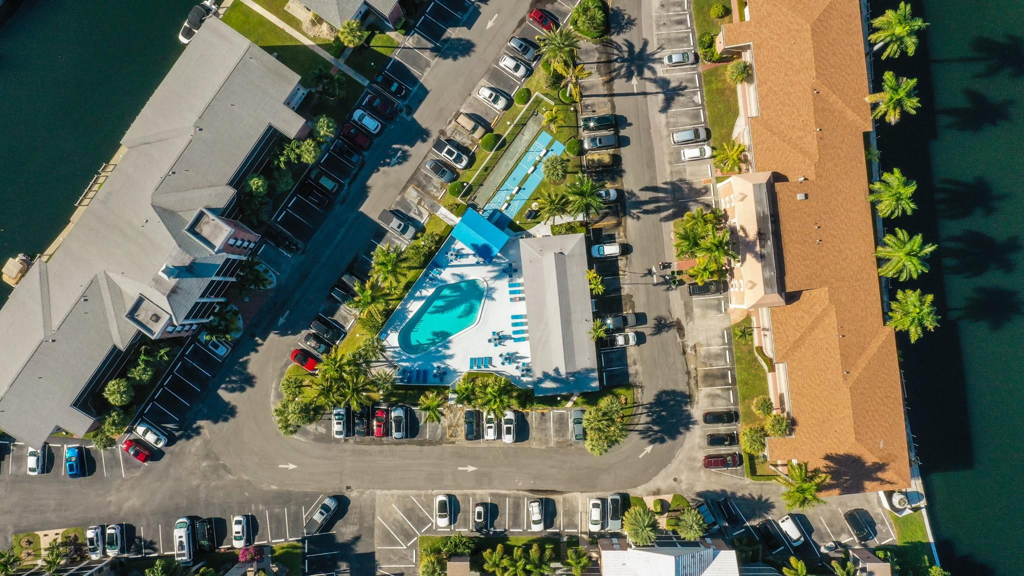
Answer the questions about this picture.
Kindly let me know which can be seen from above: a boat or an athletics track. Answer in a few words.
boat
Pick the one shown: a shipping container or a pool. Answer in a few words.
pool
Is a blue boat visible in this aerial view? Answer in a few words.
No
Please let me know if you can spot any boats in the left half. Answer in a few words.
Yes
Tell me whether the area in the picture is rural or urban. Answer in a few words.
urban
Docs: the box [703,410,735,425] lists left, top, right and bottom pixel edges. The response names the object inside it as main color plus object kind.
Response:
black car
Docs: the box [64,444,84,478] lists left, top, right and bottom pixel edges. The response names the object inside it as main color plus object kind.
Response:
blue car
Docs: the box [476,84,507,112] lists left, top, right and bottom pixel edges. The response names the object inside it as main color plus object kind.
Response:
white car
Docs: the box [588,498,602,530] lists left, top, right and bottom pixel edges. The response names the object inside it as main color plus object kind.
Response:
white car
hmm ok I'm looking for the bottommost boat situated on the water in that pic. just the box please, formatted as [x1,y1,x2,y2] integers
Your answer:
[0,253,31,287]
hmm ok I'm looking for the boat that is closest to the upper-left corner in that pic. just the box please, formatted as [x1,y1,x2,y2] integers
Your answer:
[182,0,219,46]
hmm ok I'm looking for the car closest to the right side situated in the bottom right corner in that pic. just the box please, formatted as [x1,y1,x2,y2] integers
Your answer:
[845,508,869,542]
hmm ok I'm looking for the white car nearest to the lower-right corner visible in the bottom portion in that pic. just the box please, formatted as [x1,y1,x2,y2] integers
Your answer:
[775,511,803,547]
